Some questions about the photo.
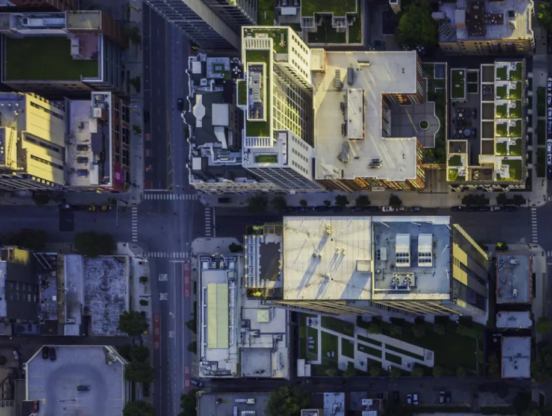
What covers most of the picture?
buildings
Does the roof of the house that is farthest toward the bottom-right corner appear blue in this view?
Yes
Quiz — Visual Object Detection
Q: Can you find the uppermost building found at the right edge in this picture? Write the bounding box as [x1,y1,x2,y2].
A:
[432,0,536,58]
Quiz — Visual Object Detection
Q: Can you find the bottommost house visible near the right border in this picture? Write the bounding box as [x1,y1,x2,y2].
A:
[501,337,533,378]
